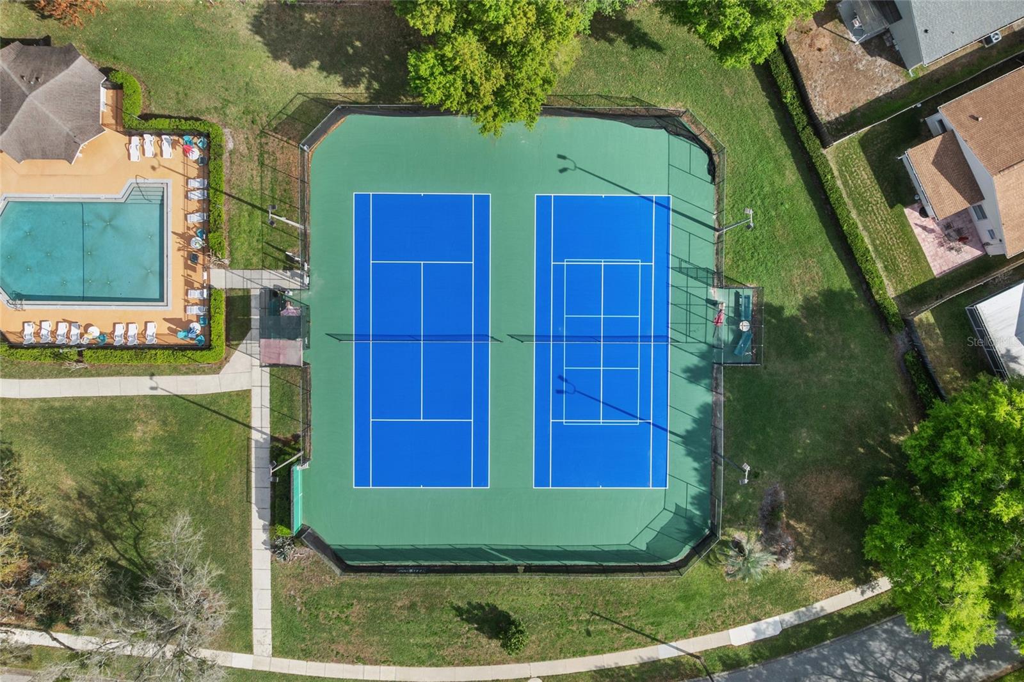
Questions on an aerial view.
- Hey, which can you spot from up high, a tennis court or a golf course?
tennis court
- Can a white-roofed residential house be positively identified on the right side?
Yes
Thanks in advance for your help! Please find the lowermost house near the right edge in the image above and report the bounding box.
[966,280,1024,402]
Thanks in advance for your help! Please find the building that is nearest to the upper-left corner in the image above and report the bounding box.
[0,42,109,164]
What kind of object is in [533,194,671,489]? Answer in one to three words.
tennis court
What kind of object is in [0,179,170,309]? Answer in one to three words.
swimming pool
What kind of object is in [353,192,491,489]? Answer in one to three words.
tennis court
